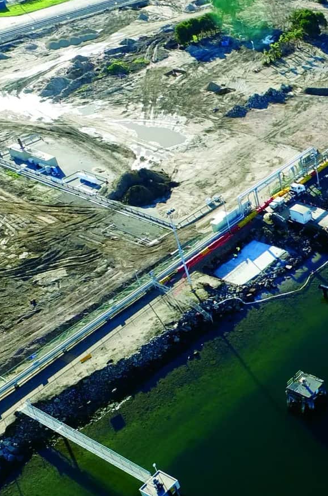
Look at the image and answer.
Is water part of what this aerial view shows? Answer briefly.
Yes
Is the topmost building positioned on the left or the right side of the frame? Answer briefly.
left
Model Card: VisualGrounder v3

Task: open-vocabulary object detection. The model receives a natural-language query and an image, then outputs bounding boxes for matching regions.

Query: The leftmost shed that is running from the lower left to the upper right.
[204,196,250,233]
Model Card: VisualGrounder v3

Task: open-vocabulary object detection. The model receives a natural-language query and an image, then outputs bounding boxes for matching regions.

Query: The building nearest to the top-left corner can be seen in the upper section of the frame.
[6,144,65,174]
